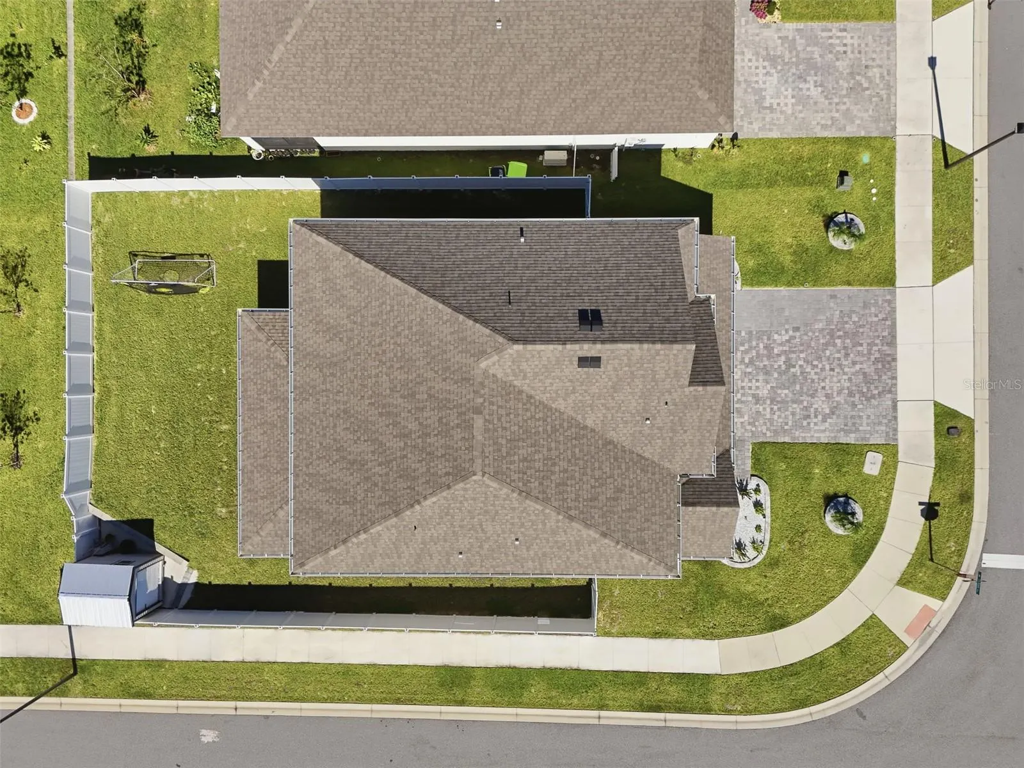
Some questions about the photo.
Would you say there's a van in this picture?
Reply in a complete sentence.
No, no van is visible in the scene.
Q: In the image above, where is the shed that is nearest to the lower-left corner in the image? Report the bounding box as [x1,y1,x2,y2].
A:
[56,553,162,627]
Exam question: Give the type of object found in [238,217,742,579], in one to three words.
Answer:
house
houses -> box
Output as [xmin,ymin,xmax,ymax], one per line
[219,0,736,152]
[238,217,742,579]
